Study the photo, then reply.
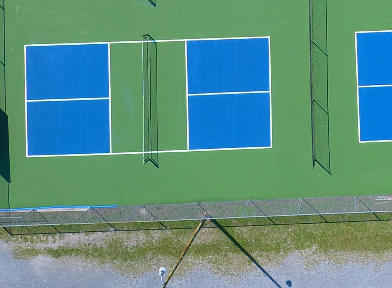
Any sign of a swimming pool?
No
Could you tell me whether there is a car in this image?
No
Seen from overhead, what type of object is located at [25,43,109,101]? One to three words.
sports court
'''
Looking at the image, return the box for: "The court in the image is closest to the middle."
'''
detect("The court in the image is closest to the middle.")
[188,94,271,150]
